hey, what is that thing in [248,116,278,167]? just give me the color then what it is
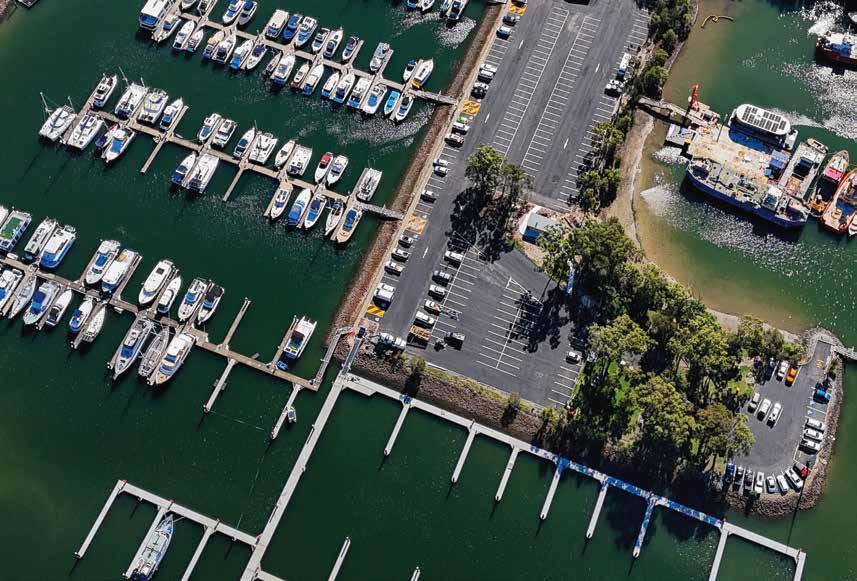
white boat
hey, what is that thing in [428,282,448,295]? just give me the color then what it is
white vehicle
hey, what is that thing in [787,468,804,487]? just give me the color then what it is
white car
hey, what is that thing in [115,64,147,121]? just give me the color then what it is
white boat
